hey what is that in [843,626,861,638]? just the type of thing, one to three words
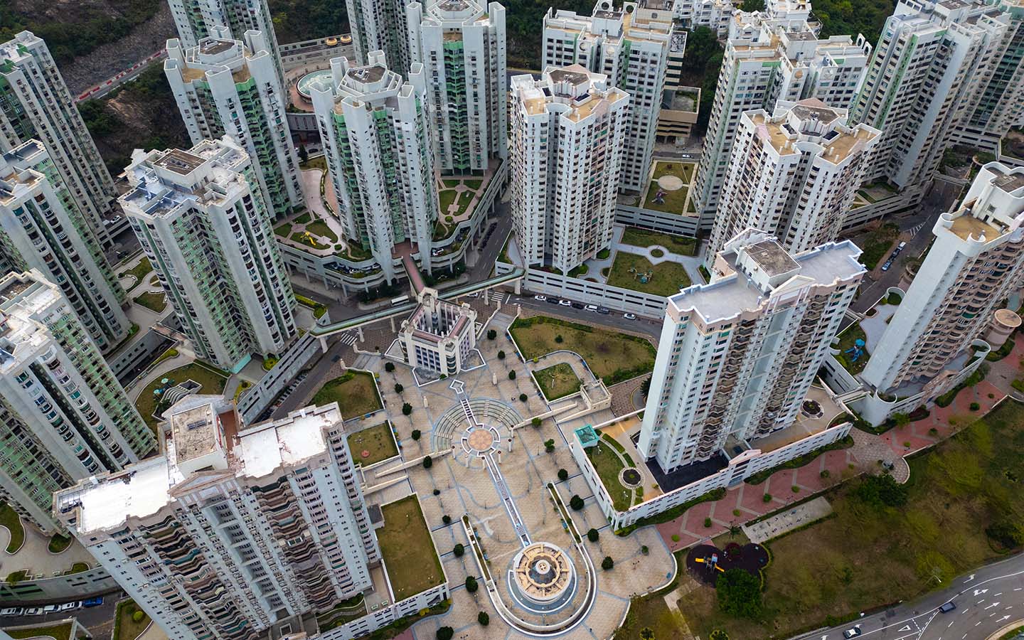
vehicle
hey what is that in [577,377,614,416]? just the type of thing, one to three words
building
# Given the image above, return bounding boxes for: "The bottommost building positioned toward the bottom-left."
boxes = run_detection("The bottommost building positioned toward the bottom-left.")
[51,403,383,640]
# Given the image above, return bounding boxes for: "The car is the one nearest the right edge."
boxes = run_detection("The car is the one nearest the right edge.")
[938,601,957,614]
